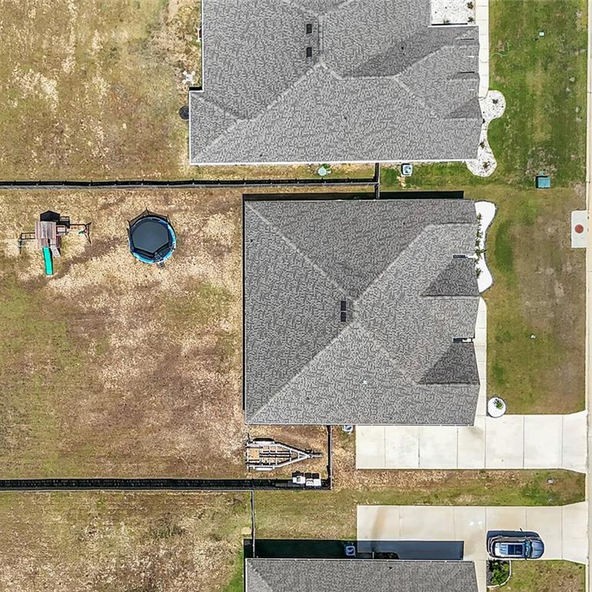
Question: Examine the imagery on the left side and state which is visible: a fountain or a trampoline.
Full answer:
Looking on the left side, you will find a trampoline.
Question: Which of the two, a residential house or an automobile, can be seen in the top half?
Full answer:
You can see a residential house in the top half.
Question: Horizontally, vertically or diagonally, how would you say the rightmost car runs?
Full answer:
The rightmost car is oriented horizontally.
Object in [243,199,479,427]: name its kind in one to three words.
house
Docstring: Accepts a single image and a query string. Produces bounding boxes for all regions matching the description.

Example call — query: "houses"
[188,0,482,164]
[244,555,477,592]
[243,199,479,427]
